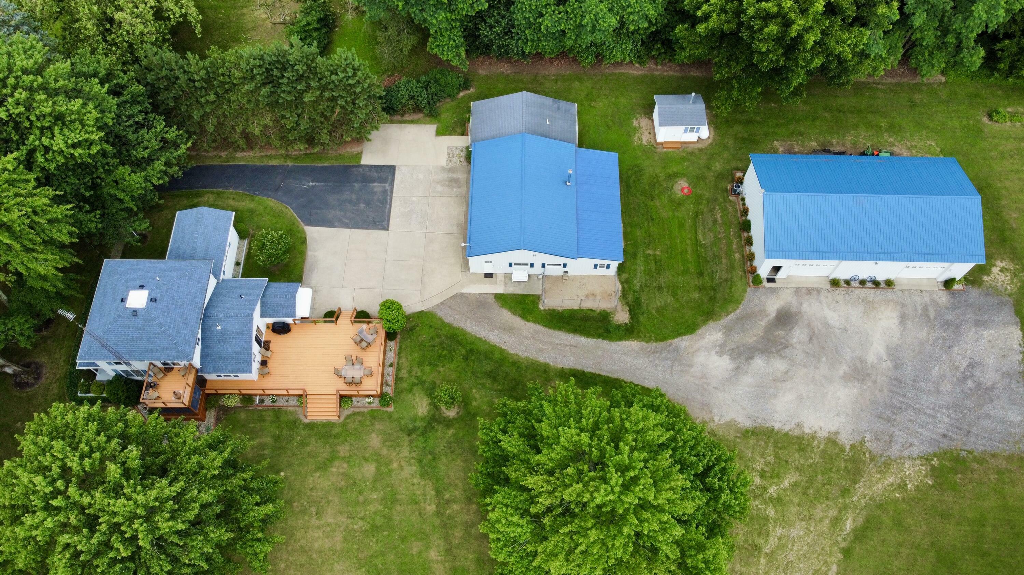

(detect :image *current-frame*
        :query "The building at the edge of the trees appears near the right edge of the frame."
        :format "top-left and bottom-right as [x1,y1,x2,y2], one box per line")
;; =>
[743,153,985,283]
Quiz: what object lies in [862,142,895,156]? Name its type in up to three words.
work vehicle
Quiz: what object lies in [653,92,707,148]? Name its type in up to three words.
shed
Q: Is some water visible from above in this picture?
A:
No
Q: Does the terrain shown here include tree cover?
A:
Yes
